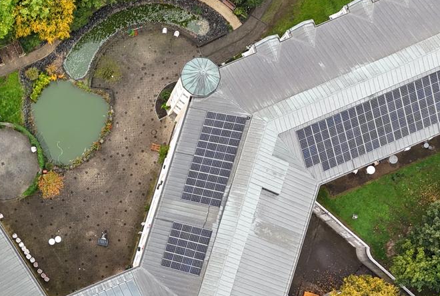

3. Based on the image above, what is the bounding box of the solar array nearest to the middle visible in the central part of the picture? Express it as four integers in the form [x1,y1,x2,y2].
[181,112,246,206]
